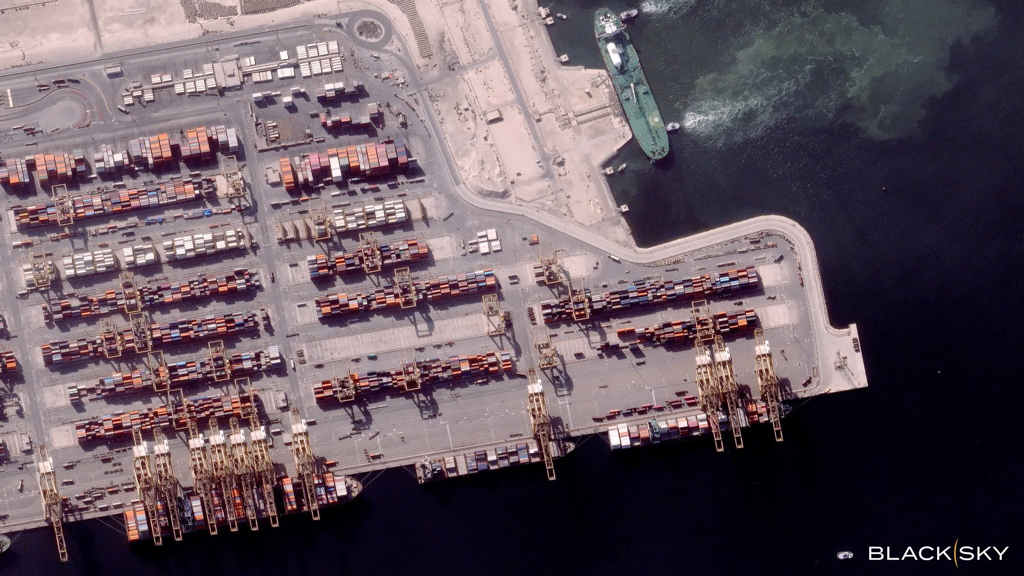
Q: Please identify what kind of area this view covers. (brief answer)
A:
port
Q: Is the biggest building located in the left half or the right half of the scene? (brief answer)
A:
left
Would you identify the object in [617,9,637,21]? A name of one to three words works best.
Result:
boat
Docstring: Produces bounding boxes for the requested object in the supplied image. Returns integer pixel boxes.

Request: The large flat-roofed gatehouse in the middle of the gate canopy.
[213,61,241,89]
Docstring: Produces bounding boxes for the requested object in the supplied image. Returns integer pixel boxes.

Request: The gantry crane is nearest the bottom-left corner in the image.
[39,444,68,562]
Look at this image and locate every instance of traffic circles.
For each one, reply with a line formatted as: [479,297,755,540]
[347,10,393,50]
